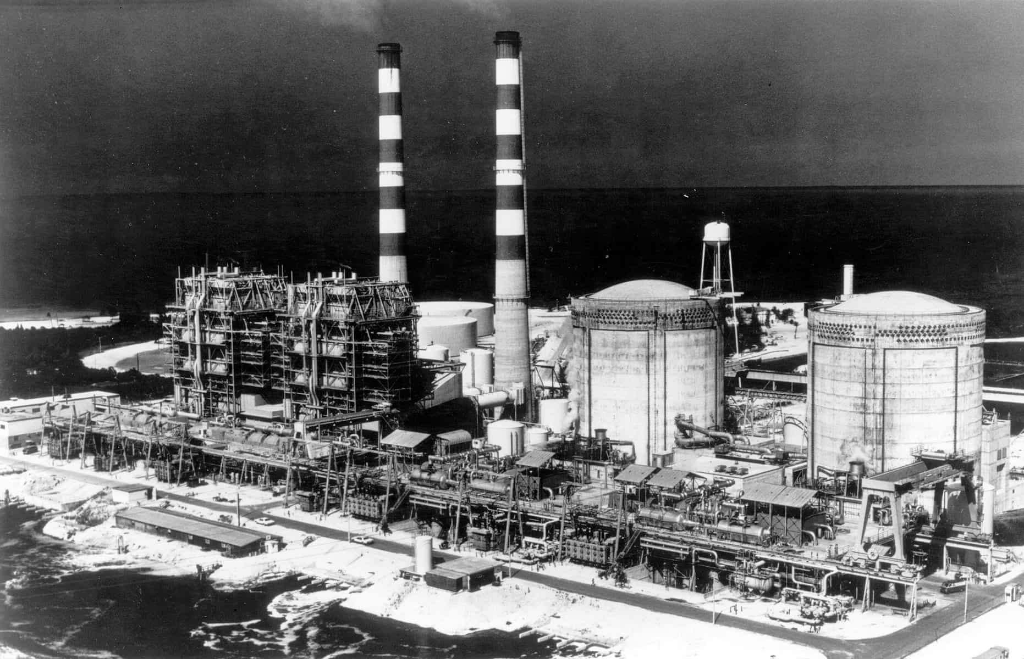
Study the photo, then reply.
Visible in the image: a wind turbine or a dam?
wind turbine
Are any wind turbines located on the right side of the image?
No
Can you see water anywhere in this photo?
Yes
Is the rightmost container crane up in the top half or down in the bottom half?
bottom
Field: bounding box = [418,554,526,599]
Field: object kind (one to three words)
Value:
building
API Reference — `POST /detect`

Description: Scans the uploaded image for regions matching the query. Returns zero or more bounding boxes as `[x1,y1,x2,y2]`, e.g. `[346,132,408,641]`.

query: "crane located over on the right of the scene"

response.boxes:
[831,447,998,570]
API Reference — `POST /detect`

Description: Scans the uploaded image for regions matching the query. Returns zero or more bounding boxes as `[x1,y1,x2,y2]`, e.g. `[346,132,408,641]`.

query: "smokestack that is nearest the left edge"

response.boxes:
[372,42,411,322]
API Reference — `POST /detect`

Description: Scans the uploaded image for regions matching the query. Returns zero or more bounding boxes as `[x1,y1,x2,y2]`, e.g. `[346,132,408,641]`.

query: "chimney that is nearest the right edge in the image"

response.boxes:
[489,30,536,426]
